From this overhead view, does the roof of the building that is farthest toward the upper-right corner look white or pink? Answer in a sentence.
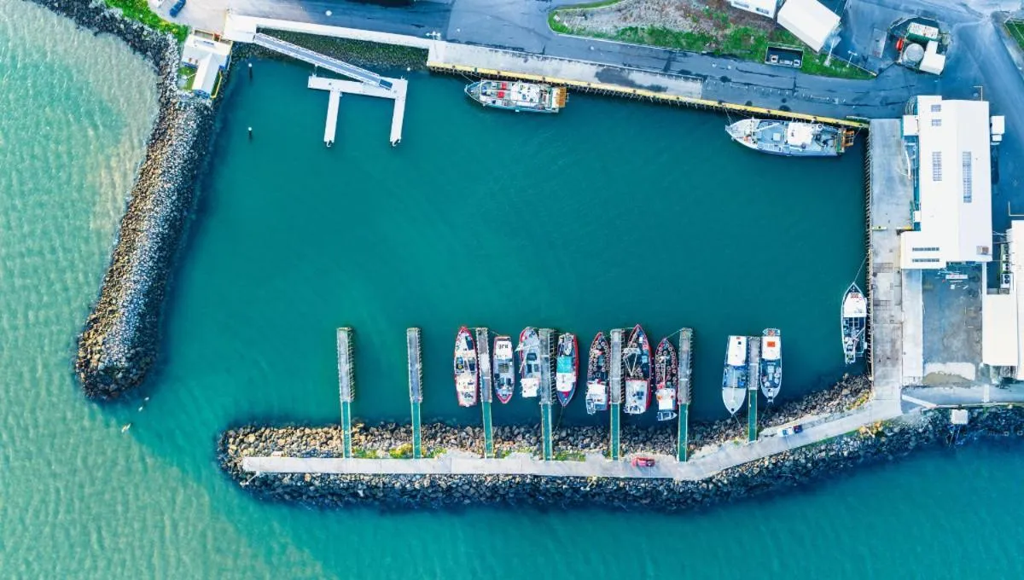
The color of the roof of the building that is farthest toward the upper-right corner is white.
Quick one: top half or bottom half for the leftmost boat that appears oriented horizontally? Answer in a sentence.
Seen from above, the leftmost boat that appears oriented horizontally lies in the top half of the view.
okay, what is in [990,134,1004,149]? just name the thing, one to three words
vehicle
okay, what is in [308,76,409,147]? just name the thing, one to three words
pier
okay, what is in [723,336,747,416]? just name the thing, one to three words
boat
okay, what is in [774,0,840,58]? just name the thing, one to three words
shed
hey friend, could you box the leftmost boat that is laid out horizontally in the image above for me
[464,79,569,115]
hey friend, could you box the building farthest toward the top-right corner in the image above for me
[913,40,945,80]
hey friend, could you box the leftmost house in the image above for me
[182,35,236,98]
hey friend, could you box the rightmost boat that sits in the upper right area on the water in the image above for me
[726,117,855,157]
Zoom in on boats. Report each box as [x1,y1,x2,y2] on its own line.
[556,333,578,407]
[657,412,677,421]
[763,329,781,336]
[656,339,677,411]
[759,336,782,402]
[623,325,654,414]
[840,282,868,356]
[464,79,569,115]
[723,336,747,416]
[587,333,609,411]
[454,326,478,407]
[493,336,515,404]
[726,117,855,157]
[516,327,540,397]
